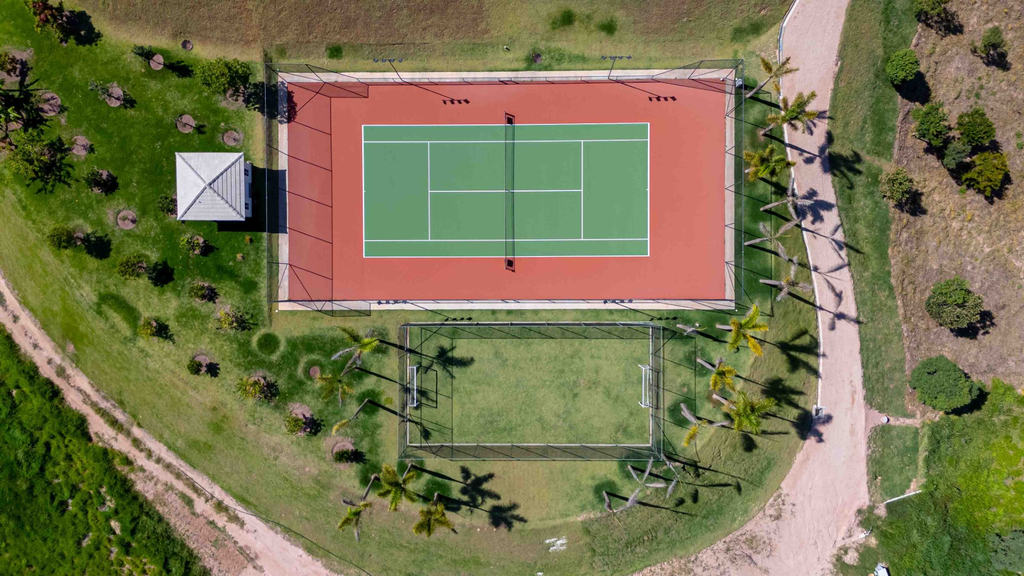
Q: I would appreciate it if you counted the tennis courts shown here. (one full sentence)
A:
Altogether the scene contains 1 tennis court.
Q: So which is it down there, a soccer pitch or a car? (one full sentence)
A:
Visible in the photo is a soccer pitch.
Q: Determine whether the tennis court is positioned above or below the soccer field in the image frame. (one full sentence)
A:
In the image, the tennis court appears above the soccer field.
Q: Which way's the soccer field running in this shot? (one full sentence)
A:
The soccer field is laid out horizontally.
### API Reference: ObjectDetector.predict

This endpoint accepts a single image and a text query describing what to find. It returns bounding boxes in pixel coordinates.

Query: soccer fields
[406,322,653,447]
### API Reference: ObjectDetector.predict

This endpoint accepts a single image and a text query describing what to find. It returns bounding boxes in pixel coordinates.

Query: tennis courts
[277,69,736,310]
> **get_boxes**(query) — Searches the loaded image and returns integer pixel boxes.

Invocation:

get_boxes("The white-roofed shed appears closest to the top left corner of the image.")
[174,150,252,219]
